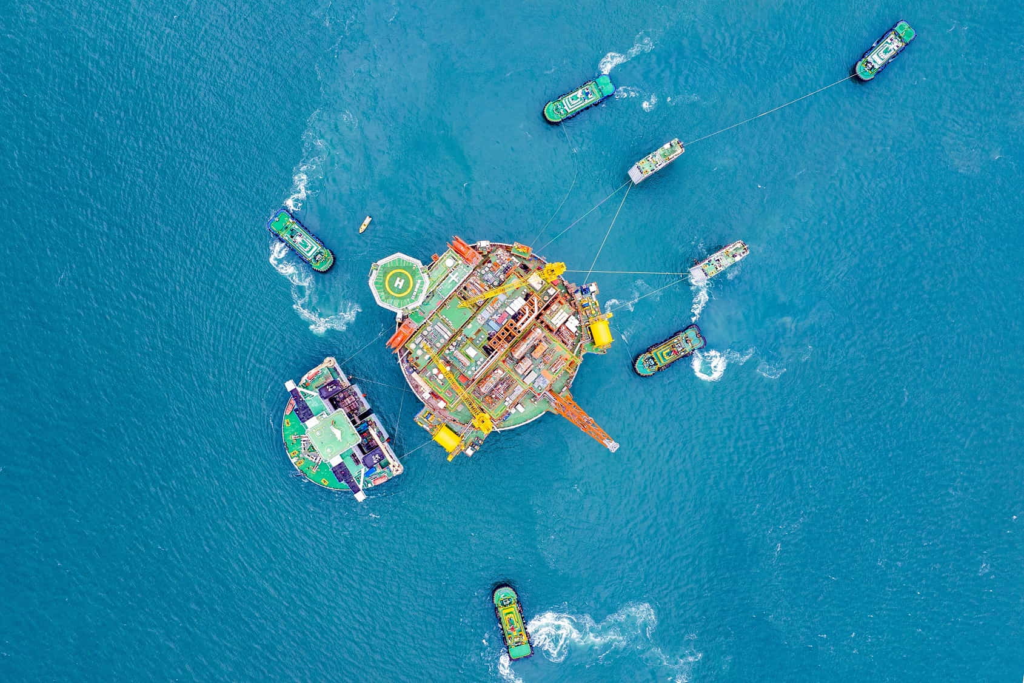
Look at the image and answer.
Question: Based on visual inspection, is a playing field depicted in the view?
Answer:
No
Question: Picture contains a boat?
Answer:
Yes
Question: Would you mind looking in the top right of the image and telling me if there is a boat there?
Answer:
Yes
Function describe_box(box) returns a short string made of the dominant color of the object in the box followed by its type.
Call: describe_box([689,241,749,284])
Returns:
white boat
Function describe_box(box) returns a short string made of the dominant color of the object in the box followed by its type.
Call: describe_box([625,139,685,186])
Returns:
white boat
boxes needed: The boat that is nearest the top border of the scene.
[853,19,918,84]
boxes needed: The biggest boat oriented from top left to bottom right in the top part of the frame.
[268,210,335,271]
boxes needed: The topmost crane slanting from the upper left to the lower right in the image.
[422,341,498,442]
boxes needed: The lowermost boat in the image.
[493,583,535,660]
